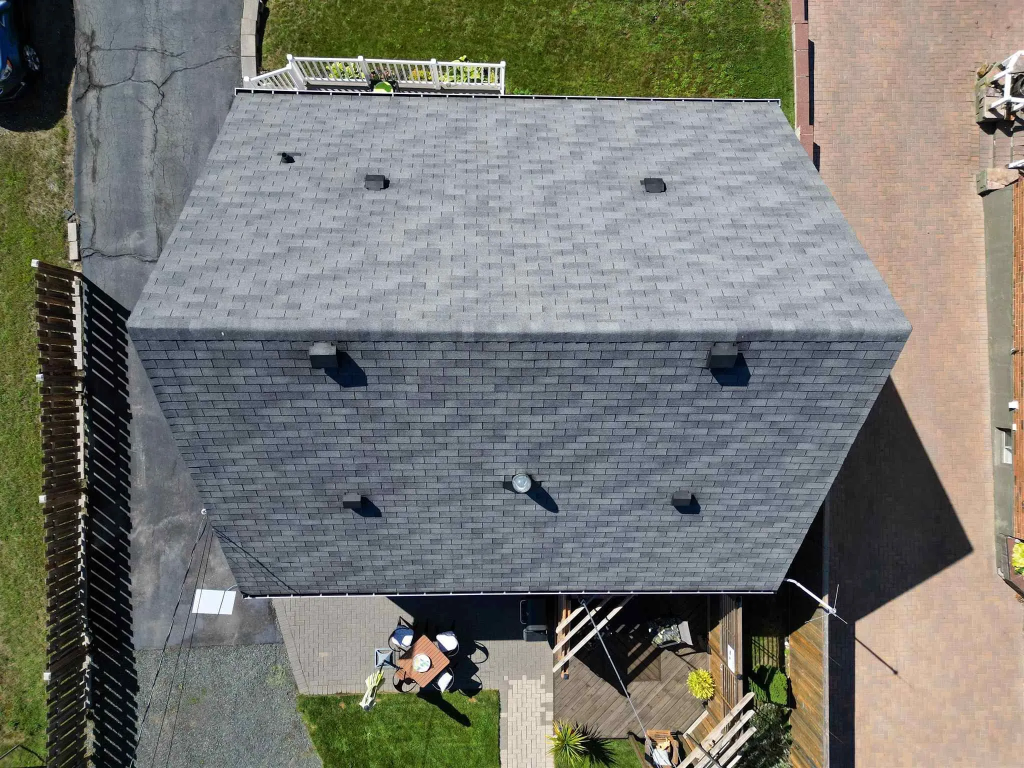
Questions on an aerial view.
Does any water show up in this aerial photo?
No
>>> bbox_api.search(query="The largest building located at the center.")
[125,88,913,600]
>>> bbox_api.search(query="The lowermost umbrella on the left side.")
[361,650,393,709]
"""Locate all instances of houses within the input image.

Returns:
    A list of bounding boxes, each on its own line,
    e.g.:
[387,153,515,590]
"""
[984,158,1024,544]
[125,88,913,600]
